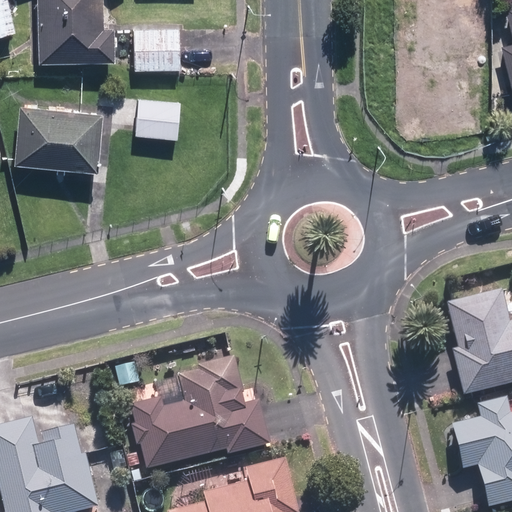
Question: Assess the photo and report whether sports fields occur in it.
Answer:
No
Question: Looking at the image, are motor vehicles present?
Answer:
Yes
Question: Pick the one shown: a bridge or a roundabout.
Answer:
roundabout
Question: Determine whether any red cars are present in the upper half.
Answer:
No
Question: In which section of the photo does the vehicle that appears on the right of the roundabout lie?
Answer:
right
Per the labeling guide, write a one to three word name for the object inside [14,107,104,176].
house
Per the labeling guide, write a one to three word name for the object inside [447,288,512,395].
house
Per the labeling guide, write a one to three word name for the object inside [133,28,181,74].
building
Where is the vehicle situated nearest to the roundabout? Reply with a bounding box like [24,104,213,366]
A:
[266,214,282,244]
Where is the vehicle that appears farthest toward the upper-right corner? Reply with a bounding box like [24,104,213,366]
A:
[468,216,506,236]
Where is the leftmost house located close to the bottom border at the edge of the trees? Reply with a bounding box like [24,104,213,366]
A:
[0,416,98,512]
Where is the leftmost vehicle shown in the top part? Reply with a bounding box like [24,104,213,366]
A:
[181,49,212,65]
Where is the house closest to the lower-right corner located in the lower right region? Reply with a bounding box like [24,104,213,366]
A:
[452,395,512,507]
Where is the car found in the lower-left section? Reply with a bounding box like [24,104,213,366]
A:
[33,384,60,400]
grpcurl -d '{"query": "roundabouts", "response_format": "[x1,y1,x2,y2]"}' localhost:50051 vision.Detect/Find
[282,201,364,275]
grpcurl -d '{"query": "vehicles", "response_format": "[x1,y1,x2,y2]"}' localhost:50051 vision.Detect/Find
[266,214,282,244]
[468,216,506,236]
[181,49,212,65]
[33,384,60,400]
